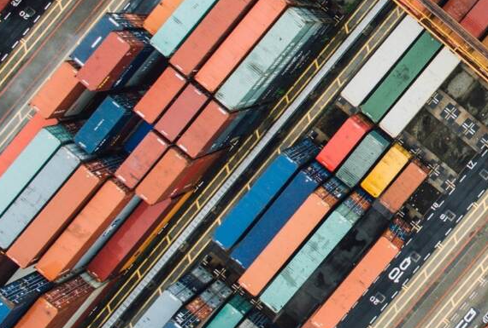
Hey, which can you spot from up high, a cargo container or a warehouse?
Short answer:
cargo container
